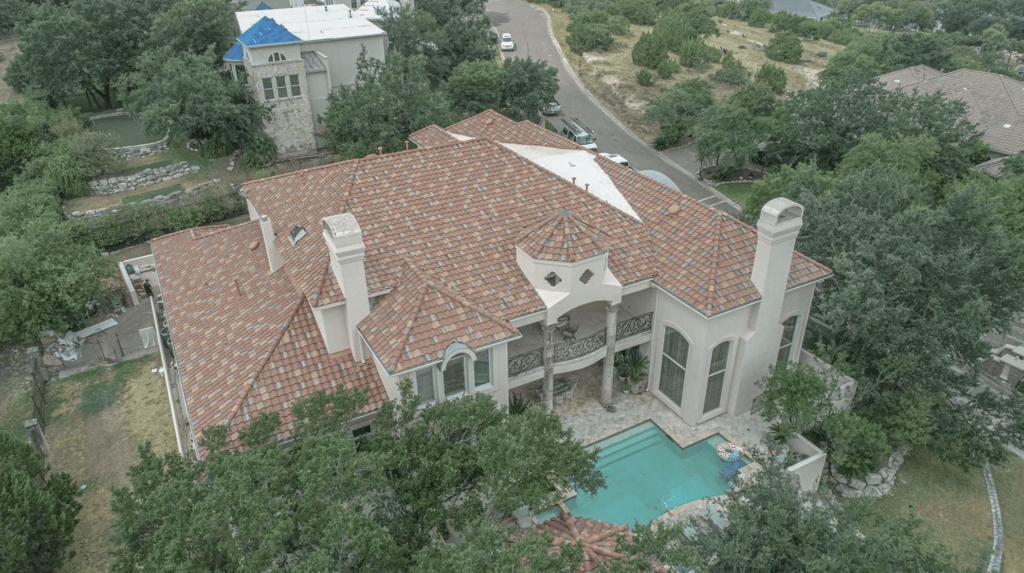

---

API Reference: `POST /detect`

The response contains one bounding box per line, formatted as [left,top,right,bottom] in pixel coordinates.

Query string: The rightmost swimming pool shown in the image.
[560,413,764,533]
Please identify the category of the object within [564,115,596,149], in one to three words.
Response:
van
